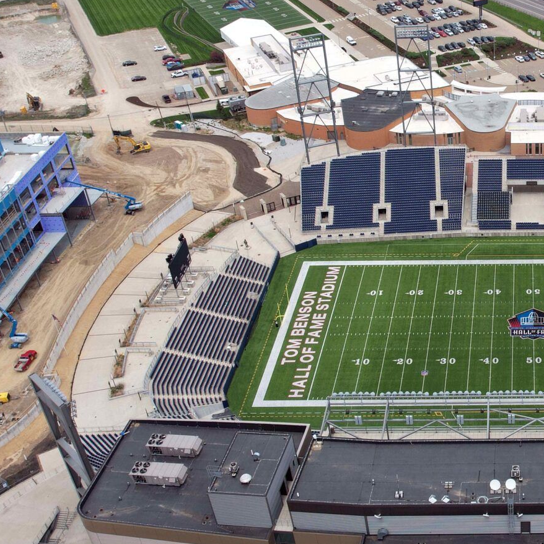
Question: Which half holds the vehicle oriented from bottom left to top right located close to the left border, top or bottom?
bottom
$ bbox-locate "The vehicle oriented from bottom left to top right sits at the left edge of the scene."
[13,349,35,368]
